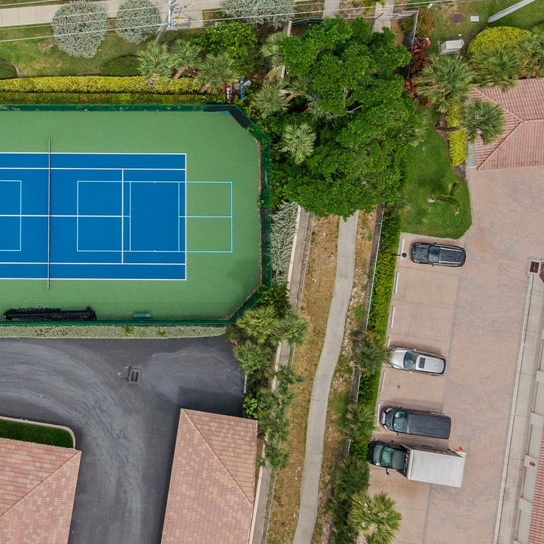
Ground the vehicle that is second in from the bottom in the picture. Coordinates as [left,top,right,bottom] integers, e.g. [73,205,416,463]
[378,405,452,440]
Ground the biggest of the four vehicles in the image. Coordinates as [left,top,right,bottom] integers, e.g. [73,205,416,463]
[367,438,465,486]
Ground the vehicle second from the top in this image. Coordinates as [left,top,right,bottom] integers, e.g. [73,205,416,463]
[388,348,446,375]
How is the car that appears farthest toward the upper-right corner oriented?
from left to right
